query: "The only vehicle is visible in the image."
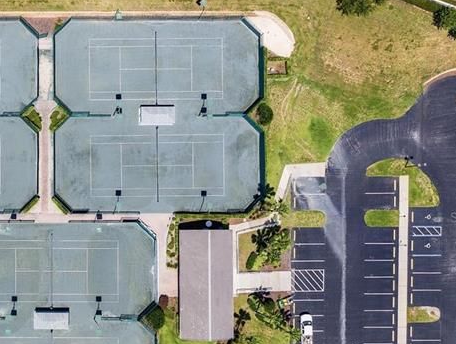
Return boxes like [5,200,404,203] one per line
[301,315,316,344]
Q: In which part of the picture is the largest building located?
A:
bottom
